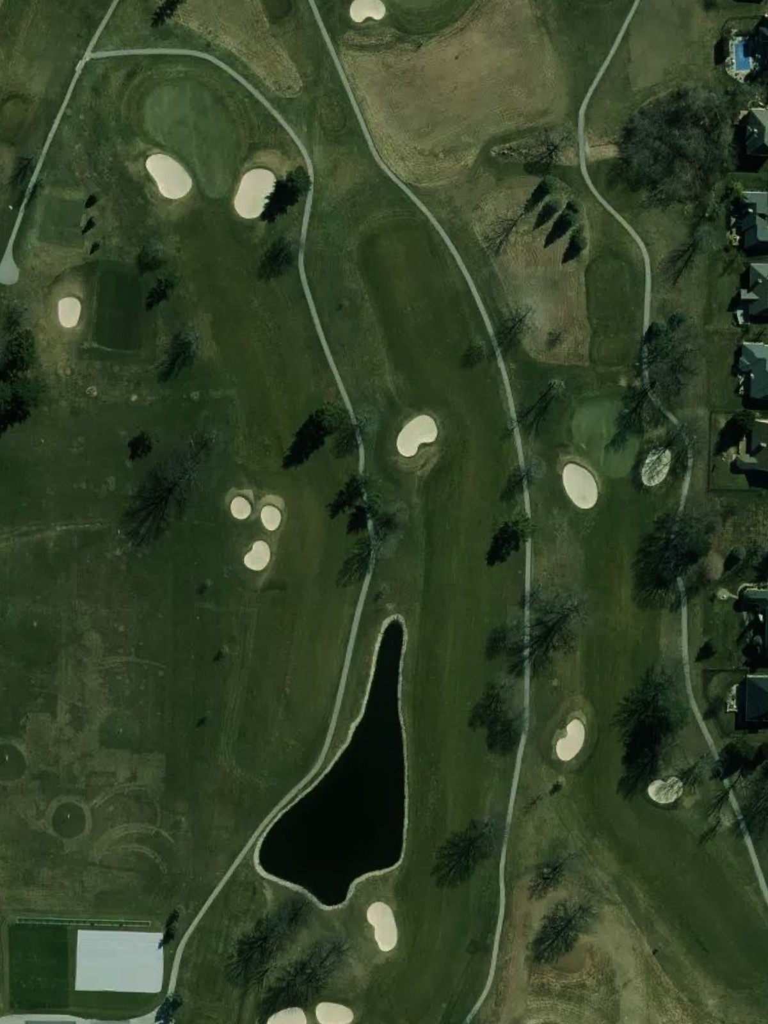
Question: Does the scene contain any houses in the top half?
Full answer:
Yes, a house is visible in the top half.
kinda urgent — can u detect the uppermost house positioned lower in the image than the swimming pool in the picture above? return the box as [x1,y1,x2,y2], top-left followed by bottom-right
[734,108,768,154]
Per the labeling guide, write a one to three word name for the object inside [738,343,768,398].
house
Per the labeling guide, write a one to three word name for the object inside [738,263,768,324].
house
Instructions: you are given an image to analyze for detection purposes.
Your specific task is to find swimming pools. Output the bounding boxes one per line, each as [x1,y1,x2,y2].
[734,42,751,71]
